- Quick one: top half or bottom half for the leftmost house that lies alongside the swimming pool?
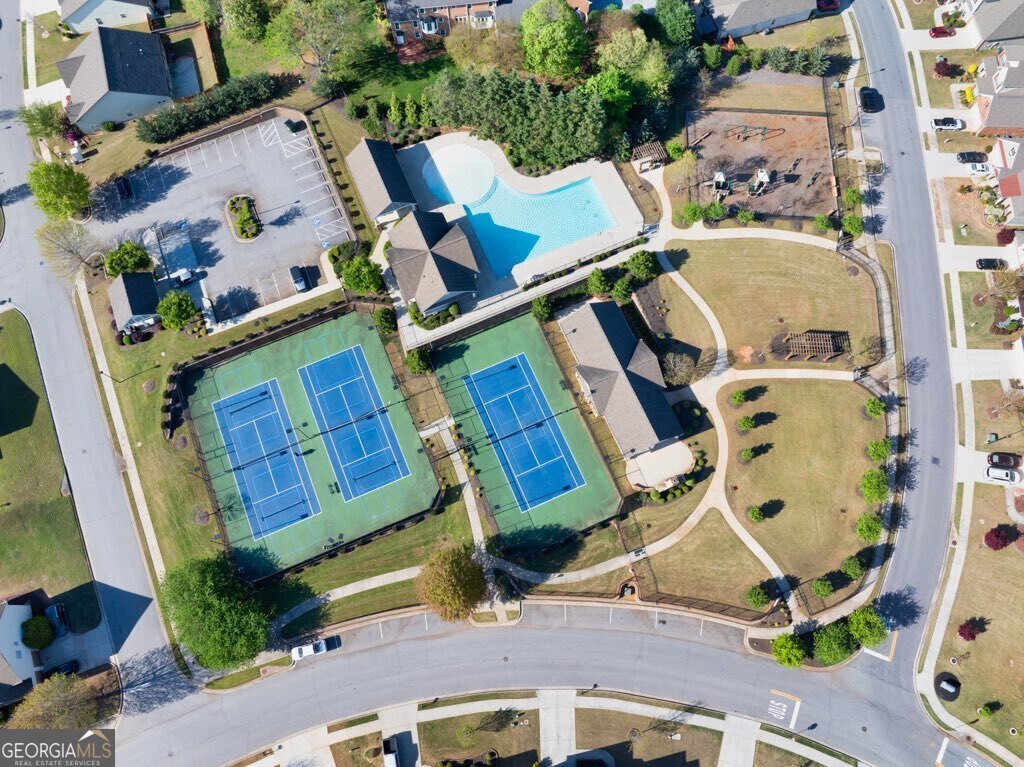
top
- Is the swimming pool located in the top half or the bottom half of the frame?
top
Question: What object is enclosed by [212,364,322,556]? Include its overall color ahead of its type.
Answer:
blue tennis court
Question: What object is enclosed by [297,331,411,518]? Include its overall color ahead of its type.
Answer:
blue tennis court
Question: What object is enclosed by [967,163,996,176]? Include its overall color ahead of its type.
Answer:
white vehicle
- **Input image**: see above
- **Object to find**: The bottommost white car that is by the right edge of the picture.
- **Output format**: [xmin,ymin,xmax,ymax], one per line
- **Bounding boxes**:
[985,468,1022,486]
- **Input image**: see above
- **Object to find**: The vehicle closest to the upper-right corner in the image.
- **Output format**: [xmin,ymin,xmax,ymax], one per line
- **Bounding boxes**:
[930,23,958,37]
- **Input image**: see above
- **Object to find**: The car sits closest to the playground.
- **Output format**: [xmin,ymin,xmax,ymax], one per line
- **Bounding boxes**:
[861,87,876,111]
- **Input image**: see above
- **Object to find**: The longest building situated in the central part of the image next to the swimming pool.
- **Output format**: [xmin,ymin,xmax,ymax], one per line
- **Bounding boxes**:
[558,299,684,460]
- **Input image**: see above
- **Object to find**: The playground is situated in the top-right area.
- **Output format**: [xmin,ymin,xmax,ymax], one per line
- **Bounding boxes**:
[694,106,841,220]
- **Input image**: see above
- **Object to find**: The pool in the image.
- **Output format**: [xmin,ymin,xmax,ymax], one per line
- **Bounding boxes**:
[394,131,644,320]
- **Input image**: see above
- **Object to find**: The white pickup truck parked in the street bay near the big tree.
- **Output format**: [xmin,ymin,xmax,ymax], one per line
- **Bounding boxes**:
[287,638,329,662]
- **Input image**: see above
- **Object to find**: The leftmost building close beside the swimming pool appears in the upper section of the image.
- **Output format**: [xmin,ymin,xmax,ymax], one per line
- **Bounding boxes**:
[347,139,418,225]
